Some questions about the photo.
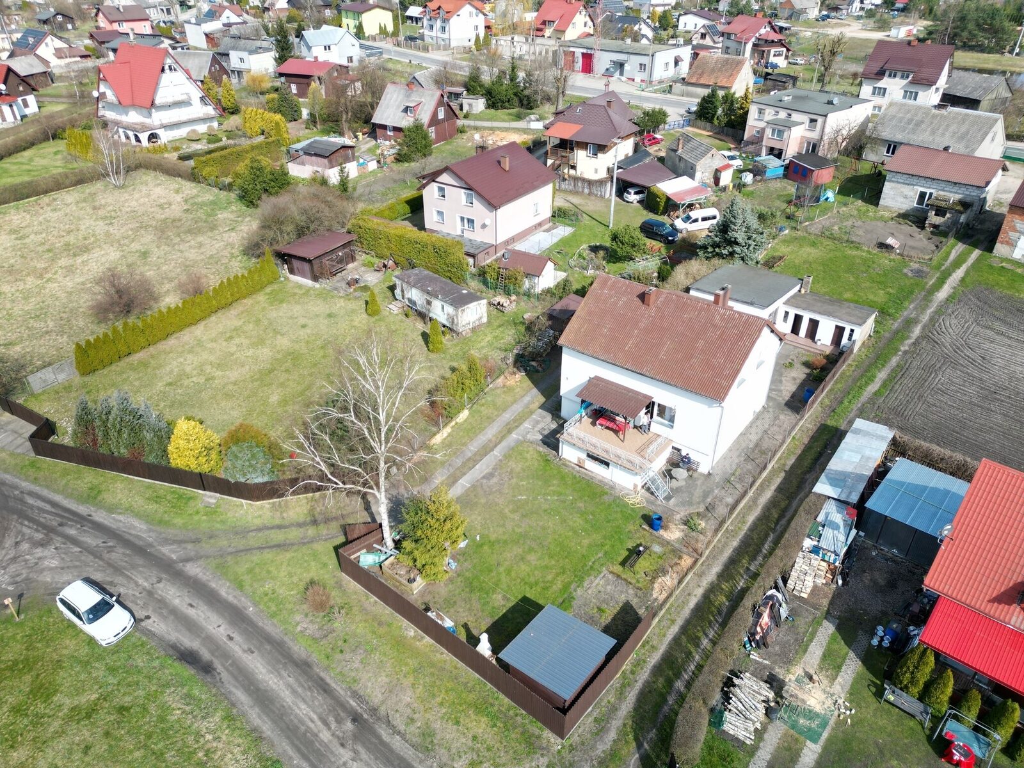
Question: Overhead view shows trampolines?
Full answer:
Yes, a trampoline can be made out from above.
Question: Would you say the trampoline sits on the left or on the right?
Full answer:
The trampoline is on the right side of the image.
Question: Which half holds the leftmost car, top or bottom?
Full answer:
You can find the leftmost car in the bottom half.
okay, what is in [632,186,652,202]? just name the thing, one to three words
car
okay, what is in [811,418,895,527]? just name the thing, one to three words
shed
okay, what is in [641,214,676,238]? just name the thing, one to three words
car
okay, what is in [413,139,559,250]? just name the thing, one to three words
house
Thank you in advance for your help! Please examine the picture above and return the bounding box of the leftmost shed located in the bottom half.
[499,599,618,716]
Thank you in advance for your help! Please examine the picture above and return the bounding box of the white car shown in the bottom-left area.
[53,572,137,642]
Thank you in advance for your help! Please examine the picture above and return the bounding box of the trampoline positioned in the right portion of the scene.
[796,183,824,209]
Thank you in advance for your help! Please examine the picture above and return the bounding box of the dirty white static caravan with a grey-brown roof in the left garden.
[393,266,487,332]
